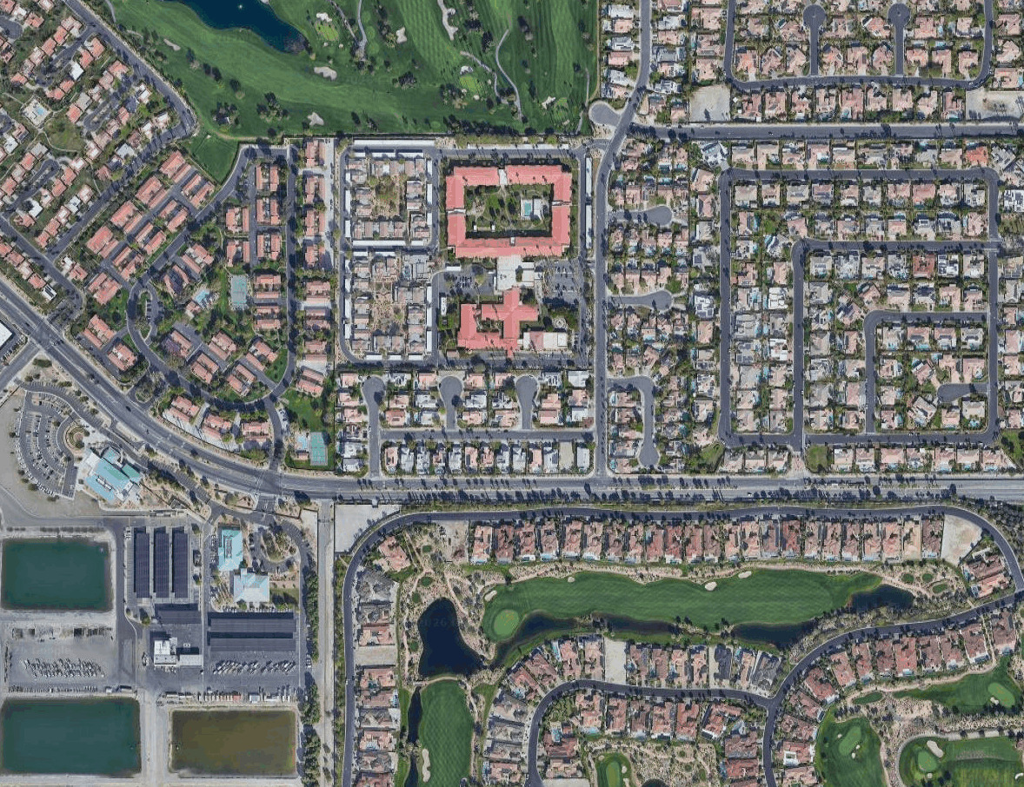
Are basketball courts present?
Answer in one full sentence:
No, I find no basketball court anywhere in the image.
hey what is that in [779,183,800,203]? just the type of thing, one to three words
house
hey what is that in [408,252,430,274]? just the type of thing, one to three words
building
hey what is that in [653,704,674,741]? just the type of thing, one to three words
house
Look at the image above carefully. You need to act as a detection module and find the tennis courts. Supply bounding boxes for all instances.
[310,431,327,465]
[231,274,247,309]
